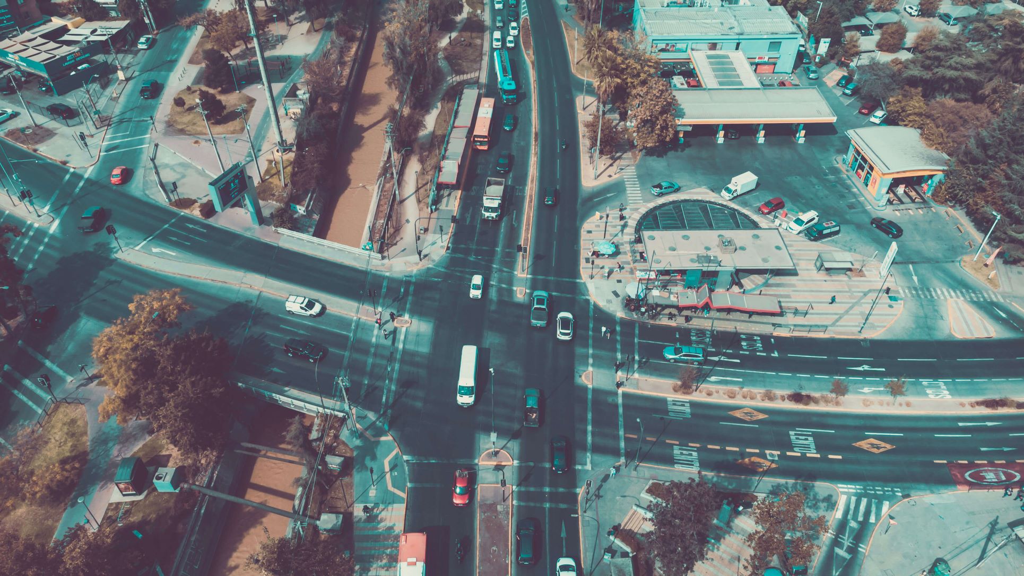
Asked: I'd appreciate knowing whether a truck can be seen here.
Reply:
Yes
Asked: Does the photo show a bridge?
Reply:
Yes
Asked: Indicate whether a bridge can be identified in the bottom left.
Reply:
Yes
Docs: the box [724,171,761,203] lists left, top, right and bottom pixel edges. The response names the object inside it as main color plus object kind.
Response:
white truck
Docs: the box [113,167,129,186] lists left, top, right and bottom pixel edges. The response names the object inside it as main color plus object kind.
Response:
red car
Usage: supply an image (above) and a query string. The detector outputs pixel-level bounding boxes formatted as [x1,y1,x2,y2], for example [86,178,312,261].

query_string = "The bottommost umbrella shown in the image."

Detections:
[621,283,644,299]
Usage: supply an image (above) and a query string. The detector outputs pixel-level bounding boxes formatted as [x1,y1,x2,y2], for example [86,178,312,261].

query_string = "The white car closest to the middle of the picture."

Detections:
[468,275,484,300]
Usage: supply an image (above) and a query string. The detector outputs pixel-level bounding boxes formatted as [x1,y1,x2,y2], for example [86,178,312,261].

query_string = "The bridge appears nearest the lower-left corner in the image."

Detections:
[0,362,408,576]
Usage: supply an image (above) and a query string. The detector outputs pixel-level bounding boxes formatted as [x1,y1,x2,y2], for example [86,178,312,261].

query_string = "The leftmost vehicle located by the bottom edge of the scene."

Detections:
[398,530,429,576]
